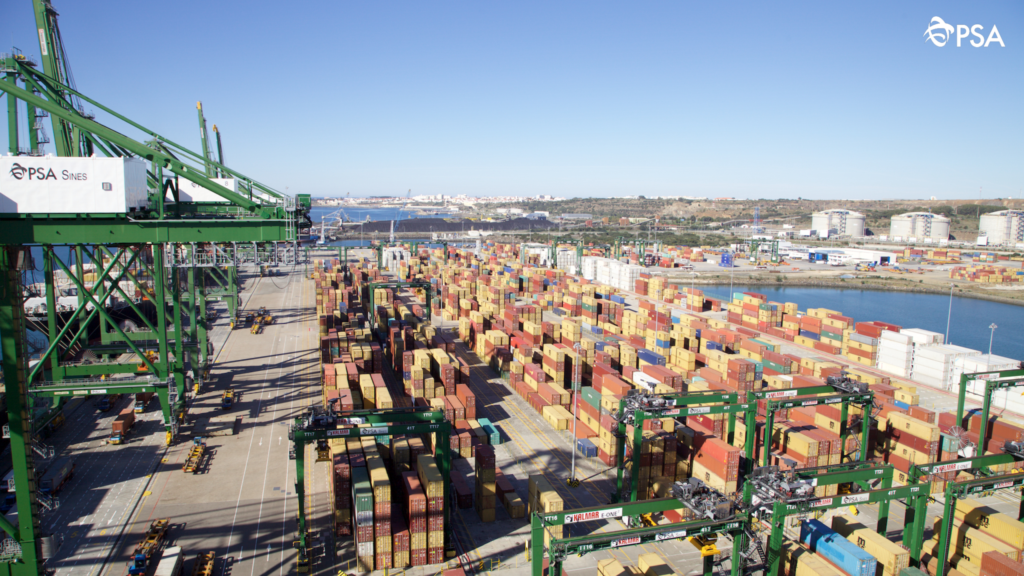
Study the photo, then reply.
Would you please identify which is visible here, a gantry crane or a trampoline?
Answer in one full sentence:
Looking from above, you can make out a gantry crane.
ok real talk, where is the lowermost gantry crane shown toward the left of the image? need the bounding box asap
[287,389,451,576]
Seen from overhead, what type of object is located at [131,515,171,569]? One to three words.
work vehicle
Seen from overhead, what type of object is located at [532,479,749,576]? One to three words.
container crane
